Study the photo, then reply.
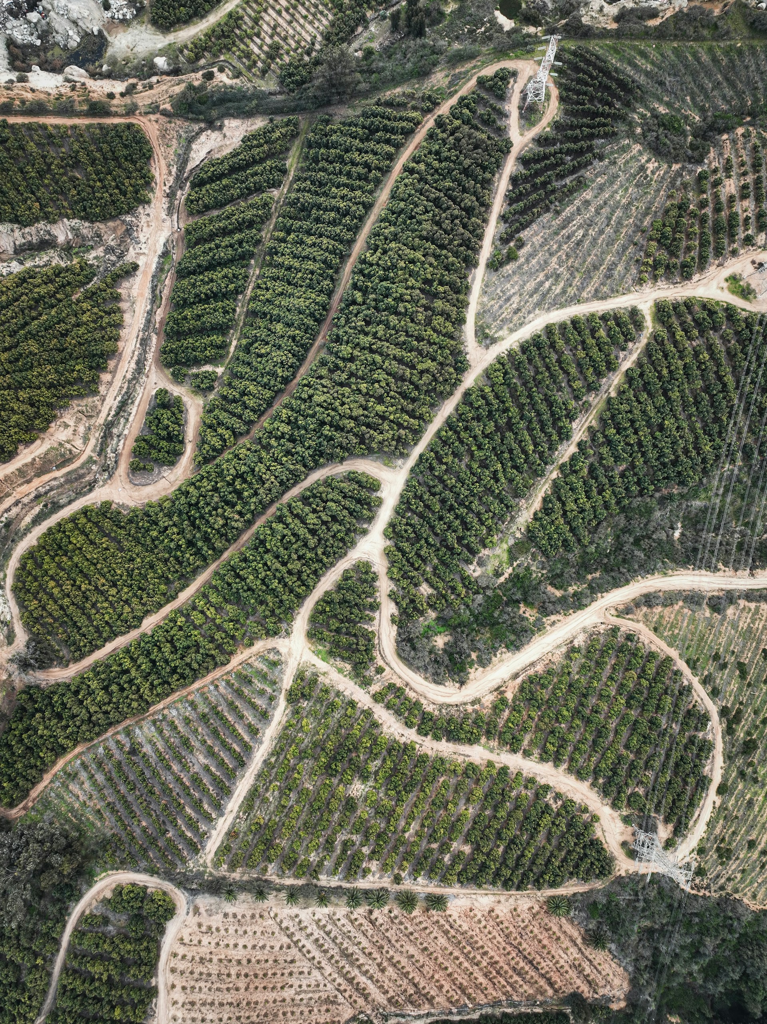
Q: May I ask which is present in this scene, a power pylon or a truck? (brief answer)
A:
power pylon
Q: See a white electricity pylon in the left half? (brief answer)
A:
No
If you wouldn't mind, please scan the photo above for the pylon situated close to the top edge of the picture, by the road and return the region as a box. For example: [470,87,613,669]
[521,23,567,114]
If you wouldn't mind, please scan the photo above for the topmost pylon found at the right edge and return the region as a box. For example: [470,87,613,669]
[747,259,767,290]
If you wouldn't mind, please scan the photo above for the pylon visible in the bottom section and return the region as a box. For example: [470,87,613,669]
[625,824,699,892]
